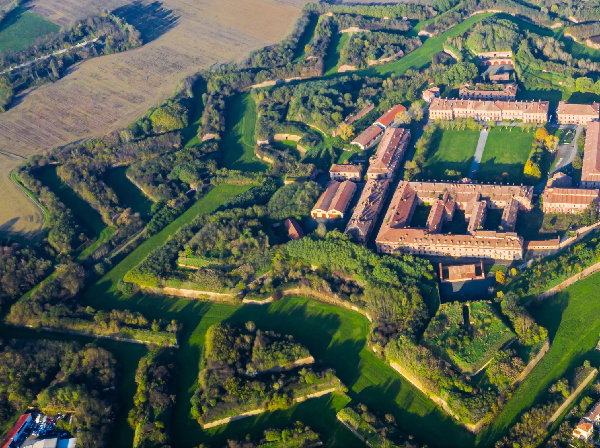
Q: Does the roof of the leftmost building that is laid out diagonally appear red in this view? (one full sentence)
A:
Yes, the roof of the leftmost building that is laid out diagonally is red.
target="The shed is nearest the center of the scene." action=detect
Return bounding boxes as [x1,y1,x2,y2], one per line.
[283,219,305,243]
